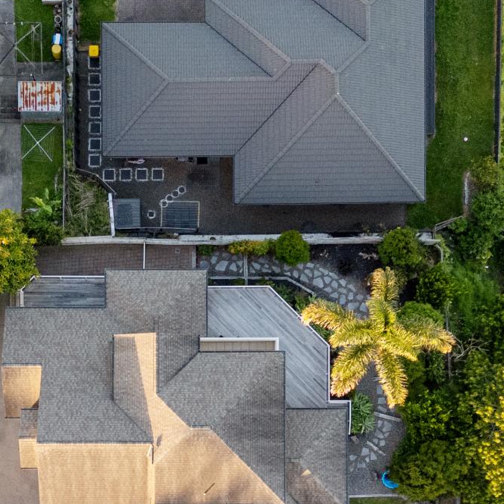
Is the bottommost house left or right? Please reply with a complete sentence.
You can find the bottommost house on the left side of the picture.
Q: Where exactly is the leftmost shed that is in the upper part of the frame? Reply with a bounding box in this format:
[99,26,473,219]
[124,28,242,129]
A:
[18,82,65,123]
